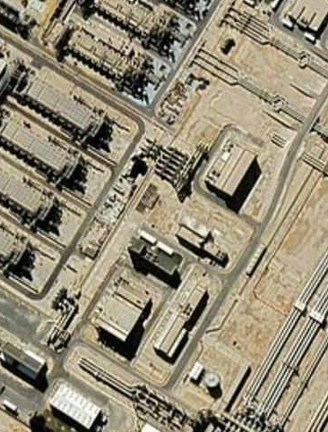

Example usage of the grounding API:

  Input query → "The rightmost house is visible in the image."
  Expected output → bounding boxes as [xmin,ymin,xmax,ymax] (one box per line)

[284,0,328,36]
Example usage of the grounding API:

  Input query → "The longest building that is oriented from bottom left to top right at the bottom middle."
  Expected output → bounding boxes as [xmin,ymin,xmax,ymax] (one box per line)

[153,280,209,356]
